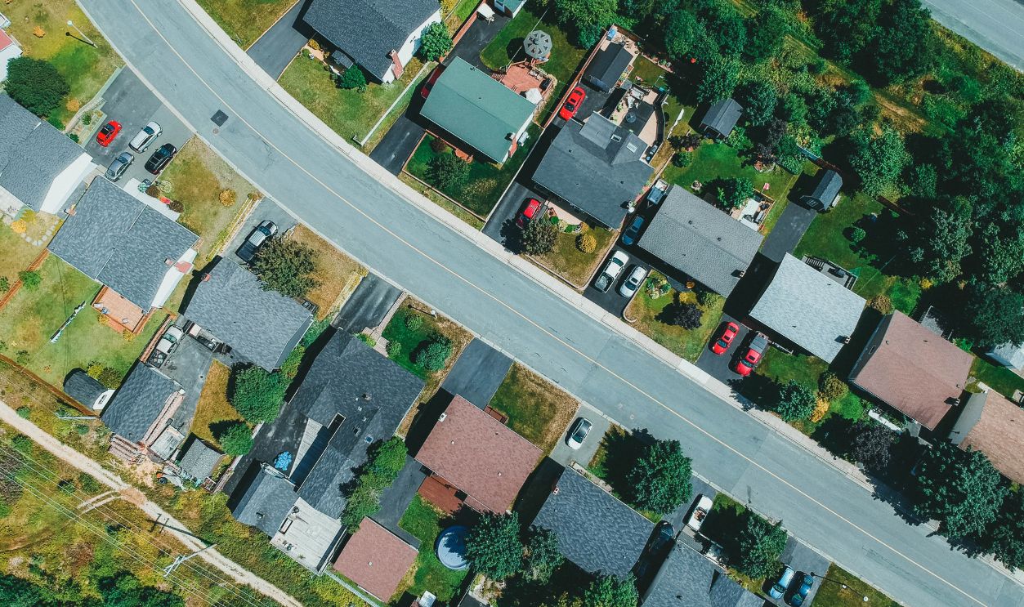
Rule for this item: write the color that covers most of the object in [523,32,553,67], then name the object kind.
gray gazebo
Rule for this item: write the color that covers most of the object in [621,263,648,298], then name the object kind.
white car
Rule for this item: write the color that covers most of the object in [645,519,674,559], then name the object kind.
black car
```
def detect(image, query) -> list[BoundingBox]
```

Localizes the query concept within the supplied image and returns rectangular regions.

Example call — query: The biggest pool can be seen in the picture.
[435,525,477,570]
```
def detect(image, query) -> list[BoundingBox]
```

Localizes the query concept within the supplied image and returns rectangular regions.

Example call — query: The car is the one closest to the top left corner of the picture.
[95,119,123,149]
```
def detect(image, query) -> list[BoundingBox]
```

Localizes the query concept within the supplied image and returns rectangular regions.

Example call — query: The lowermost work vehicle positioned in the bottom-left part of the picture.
[158,469,170,484]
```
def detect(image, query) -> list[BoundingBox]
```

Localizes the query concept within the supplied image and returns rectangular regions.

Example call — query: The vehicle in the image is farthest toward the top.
[478,2,497,23]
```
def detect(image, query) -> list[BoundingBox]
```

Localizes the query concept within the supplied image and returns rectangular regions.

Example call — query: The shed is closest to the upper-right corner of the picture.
[797,167,844,211]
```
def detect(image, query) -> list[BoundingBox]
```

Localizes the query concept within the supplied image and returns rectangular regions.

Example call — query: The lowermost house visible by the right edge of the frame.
[946,389,1024,485]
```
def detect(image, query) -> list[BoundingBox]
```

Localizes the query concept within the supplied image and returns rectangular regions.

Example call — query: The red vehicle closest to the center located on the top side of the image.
[516,195,543,228]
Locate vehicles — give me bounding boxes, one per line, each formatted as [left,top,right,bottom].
[711,320,740,355]
[105,150,135,183]
[145,141,177,177]
[621,213,645,246]
[158,469,170,484]
[415,65,442,98]
[645,519,674,559]
[788,571,816,607]
[236,219,277,263]
[516,195,543,228]
[735,330,771,376]
[559,87,586,120]
[621,263,648,298]
[596,250,628,293]
[129,119,163,155]
[148,325,185,367]
[769,563,798,599]
[685,494,714,530]
[95,119,123,149]
[567,416,592,451]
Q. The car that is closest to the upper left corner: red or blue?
red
